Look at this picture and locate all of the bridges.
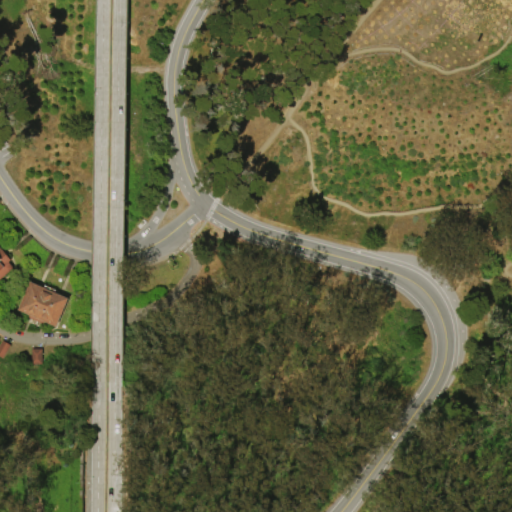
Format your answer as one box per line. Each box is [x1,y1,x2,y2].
[92,0,128,388]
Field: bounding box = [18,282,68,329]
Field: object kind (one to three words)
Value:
house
